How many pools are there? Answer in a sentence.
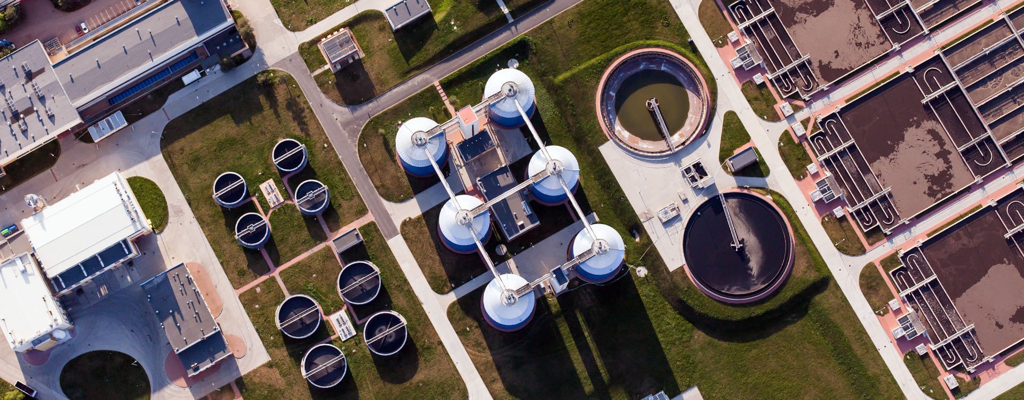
The count of pools is 0.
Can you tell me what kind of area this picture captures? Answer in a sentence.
This image shows an industrial area.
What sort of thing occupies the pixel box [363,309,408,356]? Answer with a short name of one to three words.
storage tank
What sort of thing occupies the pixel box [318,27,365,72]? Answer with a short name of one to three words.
shed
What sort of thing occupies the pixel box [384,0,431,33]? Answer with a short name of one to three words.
building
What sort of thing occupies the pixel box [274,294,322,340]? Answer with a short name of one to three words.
storage tank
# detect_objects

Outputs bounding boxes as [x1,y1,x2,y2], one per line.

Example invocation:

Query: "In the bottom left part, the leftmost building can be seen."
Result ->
[0,252,77,356]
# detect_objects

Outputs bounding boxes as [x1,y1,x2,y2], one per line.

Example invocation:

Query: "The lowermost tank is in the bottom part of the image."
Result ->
[300,343,347,389]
